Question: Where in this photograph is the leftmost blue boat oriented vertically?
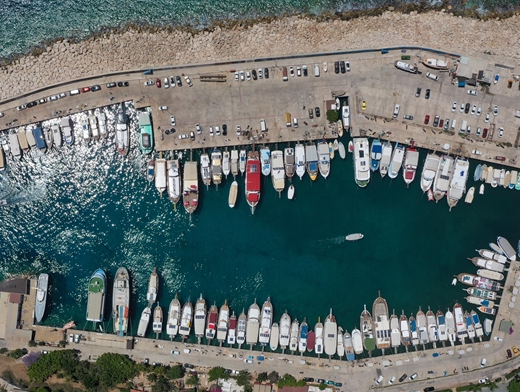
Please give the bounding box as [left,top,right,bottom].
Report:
[31,124,47,153]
